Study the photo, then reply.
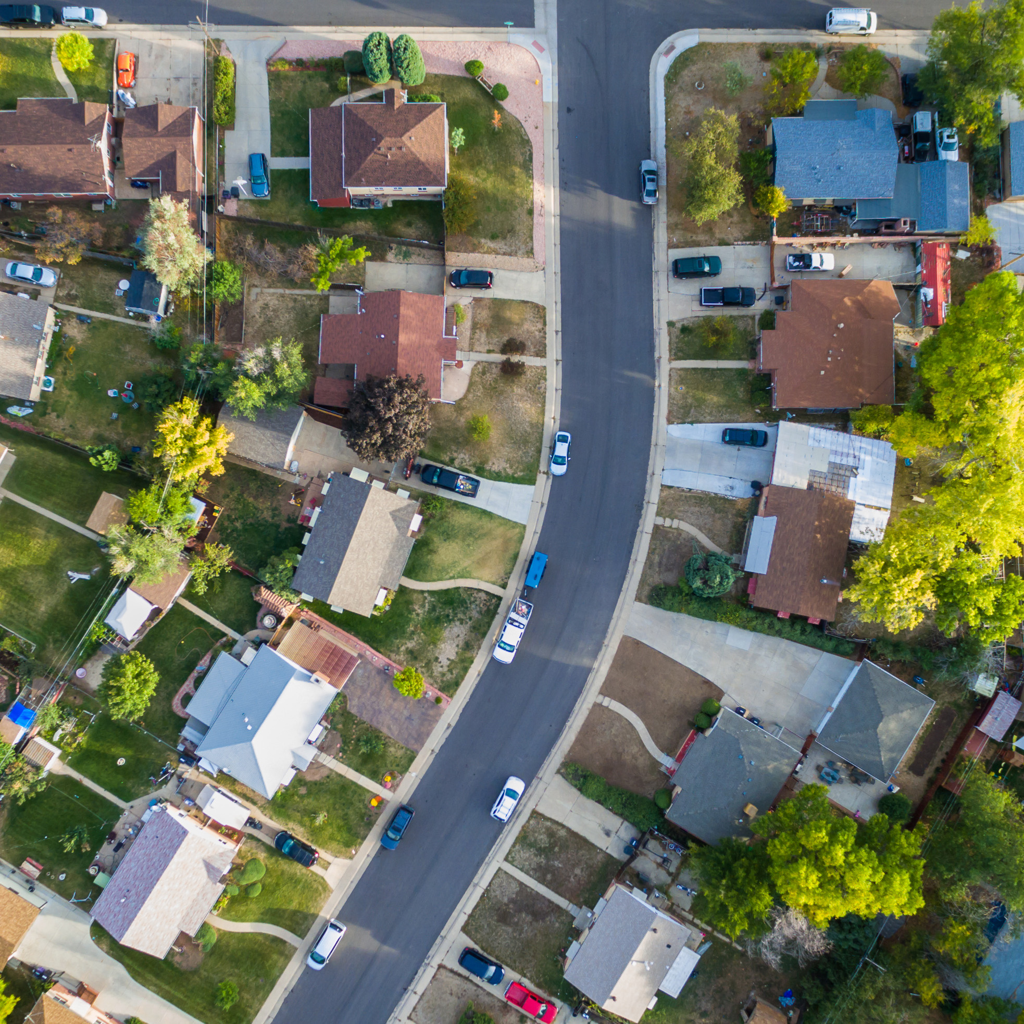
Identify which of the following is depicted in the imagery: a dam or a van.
van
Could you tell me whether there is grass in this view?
Yes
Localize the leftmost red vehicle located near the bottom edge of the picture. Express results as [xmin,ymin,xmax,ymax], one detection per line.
[503,981,557,1024]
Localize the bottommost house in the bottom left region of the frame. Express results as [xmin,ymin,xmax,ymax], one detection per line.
[28,980,124,1024]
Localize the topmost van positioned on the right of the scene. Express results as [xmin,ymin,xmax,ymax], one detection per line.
[825,6,877,36]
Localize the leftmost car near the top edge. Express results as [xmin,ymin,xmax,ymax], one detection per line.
[0,2,56,28]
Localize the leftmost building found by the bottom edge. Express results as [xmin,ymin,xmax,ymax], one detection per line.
[0,868,48,974]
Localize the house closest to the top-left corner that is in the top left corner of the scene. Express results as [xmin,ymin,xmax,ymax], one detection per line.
[0,97,113,197]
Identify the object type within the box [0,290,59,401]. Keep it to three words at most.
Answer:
house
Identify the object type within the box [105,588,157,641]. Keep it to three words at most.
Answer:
tent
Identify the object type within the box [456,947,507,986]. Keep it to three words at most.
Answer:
car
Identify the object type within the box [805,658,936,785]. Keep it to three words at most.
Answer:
building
